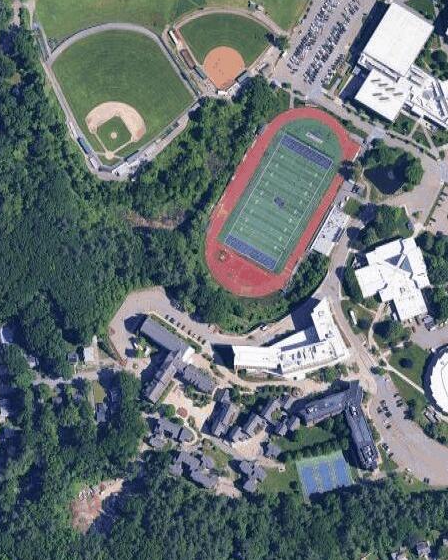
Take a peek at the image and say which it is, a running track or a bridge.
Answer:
running track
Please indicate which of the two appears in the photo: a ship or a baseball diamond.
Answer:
baseball diamond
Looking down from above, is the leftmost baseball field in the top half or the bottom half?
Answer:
top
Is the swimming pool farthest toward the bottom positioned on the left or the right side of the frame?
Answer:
left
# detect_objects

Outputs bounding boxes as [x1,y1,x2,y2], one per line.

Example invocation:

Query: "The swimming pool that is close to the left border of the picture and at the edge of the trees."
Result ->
[0,324,22,344]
